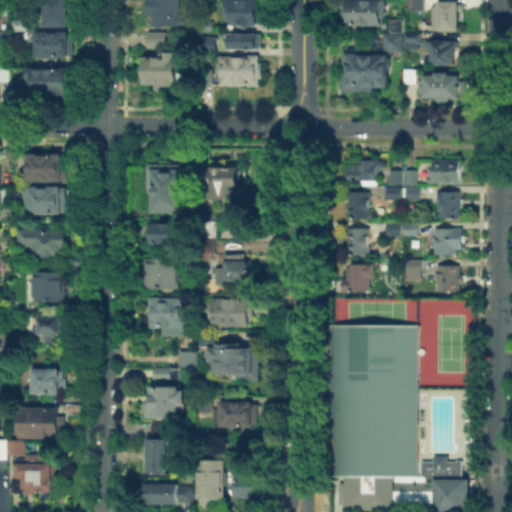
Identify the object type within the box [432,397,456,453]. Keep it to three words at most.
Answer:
swimming pool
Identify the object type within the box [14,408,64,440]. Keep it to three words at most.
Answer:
house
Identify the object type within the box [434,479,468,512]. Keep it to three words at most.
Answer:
building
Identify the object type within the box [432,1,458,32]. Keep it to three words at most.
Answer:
house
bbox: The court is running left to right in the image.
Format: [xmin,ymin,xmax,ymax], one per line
[335,298,418,324]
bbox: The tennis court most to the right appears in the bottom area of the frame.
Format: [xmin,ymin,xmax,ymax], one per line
[419,300,470,386]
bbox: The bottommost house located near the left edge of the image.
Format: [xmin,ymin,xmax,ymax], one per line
[13,464,50,498]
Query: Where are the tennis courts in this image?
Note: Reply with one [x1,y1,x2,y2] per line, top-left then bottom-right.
[335,298,418,324]
[419,300,470,386]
